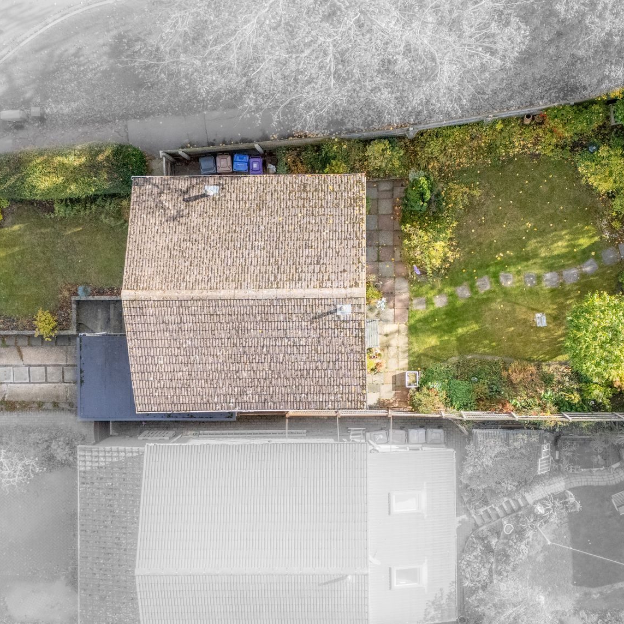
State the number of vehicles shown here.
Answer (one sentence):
There are no vehicles in this view.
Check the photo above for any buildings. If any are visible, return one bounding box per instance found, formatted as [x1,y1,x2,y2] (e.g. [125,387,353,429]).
[121,171,368,416]
[135,439,370,624]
